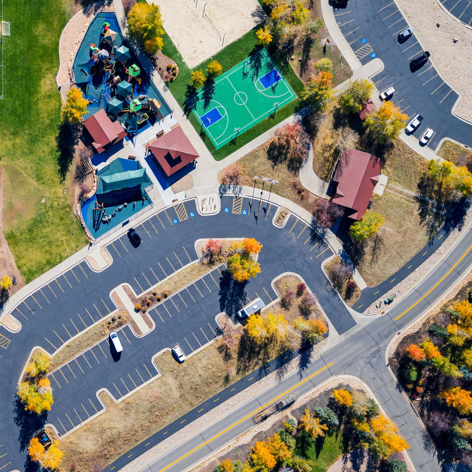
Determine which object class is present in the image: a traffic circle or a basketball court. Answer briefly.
basketball court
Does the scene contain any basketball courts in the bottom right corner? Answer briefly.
No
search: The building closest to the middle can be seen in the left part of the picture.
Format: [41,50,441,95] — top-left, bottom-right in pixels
[148,127,199,177]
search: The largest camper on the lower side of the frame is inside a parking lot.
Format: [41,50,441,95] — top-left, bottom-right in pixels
[236,297,267,317]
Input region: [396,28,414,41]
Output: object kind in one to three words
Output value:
vehicle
